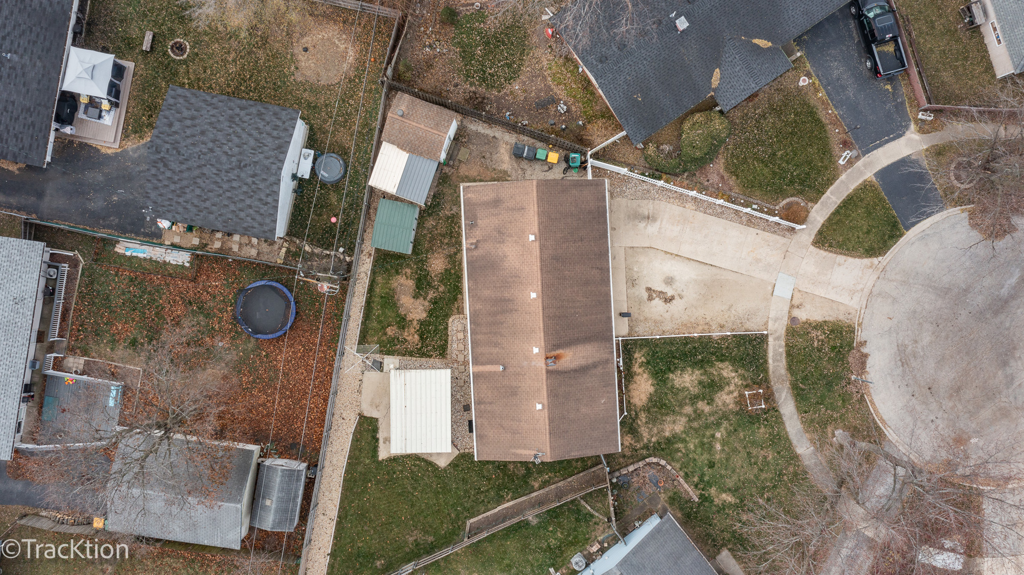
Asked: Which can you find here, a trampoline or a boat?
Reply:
trampoline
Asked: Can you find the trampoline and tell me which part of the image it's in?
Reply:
left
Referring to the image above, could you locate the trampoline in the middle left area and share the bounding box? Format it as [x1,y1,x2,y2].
[236,279,298,339]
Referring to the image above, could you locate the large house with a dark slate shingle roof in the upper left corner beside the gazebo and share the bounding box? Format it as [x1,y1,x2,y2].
[0,0,82,167]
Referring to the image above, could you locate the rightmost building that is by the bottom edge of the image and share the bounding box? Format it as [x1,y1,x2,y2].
[578,505,720,575]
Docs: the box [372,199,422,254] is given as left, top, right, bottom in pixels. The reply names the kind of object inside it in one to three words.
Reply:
shed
